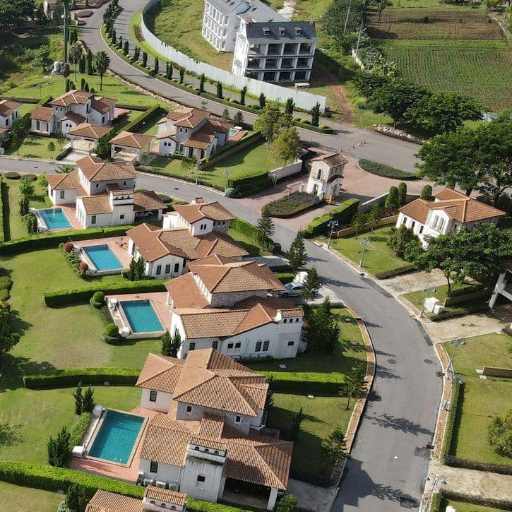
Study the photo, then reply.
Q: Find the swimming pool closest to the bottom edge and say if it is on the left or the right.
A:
left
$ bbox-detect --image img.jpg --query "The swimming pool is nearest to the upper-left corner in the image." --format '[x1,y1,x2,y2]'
[26,203,76,231]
